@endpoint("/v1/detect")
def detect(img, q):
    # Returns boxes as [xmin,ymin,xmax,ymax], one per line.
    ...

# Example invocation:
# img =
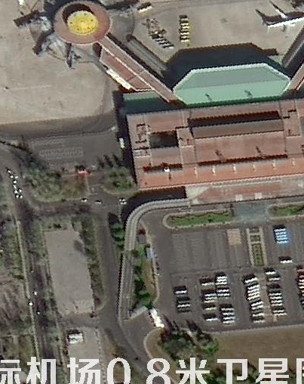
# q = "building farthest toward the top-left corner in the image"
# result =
[19,0,139,73]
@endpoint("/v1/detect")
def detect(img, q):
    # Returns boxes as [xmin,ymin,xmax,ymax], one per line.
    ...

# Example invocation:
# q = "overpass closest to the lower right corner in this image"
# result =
[118,196,195,323]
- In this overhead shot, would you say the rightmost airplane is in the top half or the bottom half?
top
